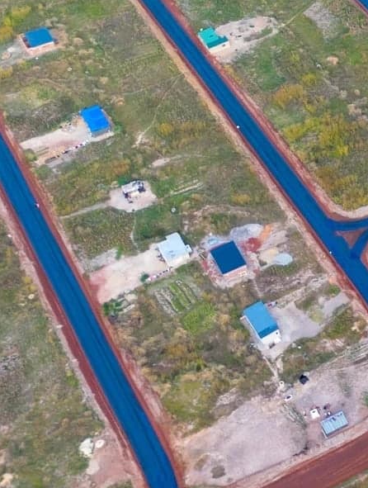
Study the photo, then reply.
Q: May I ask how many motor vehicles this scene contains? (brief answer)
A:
0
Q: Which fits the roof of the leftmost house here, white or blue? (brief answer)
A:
blue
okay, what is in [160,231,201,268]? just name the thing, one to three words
house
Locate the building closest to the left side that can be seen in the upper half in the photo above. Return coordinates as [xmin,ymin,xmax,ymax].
[29,25,57,52]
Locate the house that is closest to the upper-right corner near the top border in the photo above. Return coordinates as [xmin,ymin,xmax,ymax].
[201,23,229,52]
